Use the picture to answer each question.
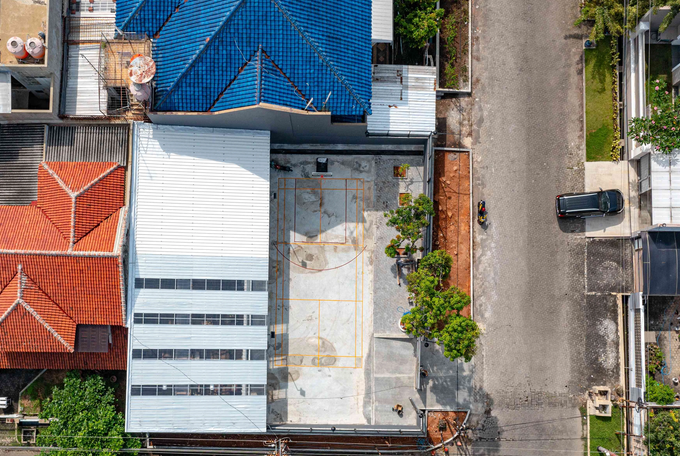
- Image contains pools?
No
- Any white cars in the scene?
No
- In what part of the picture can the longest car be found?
right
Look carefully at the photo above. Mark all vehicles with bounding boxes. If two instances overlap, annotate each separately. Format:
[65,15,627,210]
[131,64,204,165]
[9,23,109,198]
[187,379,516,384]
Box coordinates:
[559,185,626,220]
[479,199,490,225]
[270,155,294,169]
